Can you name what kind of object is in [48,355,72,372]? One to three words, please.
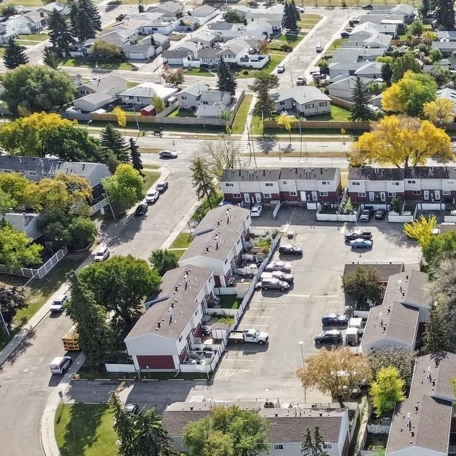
car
